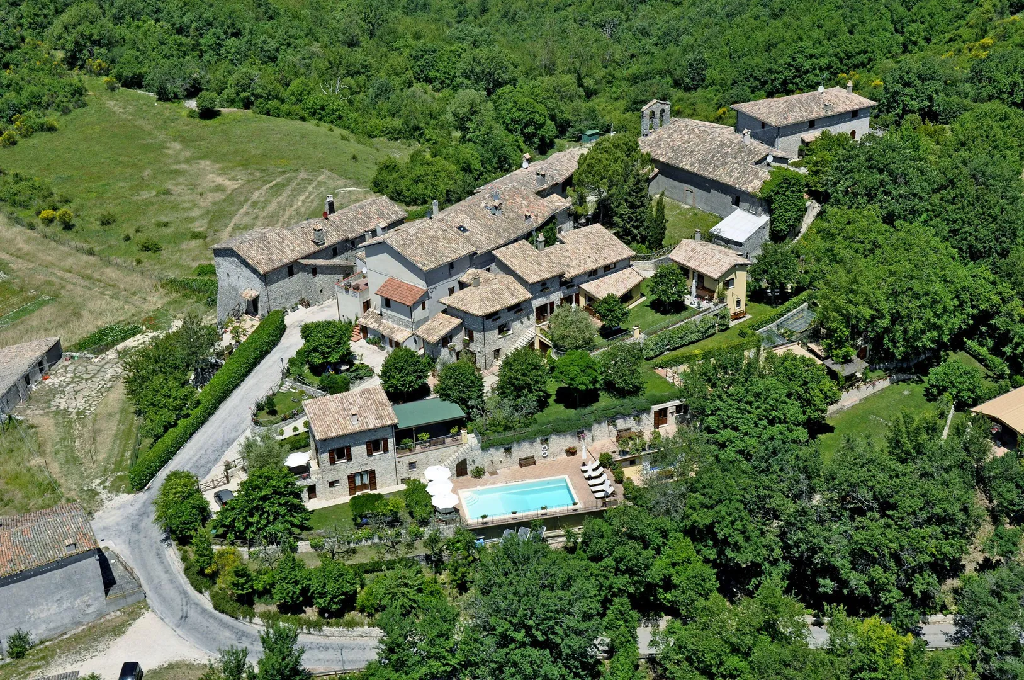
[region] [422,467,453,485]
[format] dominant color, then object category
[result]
white umbrella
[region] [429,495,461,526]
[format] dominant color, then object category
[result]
white umbrella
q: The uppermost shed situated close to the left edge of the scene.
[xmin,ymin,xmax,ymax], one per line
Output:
[0,324,59,422]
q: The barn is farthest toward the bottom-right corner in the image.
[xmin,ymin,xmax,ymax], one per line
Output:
[965,386,1024,471]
